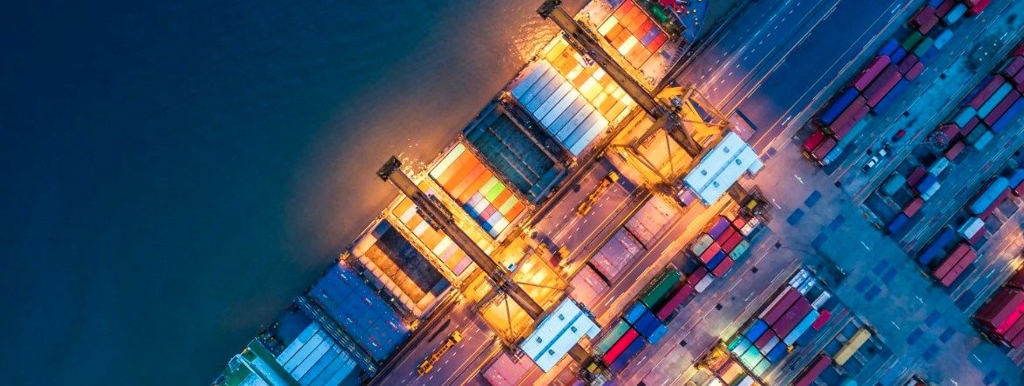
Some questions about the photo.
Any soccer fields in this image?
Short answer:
No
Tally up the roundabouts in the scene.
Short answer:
0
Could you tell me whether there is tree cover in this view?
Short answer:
No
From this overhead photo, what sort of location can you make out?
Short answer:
port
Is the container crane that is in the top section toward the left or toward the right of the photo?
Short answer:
right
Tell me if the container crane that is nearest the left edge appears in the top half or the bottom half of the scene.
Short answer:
bottom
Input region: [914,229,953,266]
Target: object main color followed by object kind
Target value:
blue shipping container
